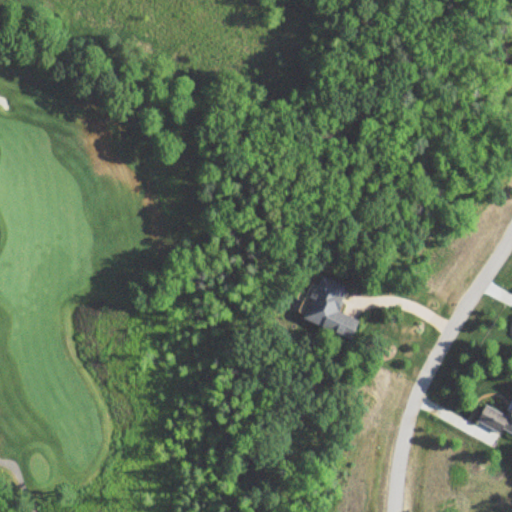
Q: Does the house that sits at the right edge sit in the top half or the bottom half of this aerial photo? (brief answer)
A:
bottom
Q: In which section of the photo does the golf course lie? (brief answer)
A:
left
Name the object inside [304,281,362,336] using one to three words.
house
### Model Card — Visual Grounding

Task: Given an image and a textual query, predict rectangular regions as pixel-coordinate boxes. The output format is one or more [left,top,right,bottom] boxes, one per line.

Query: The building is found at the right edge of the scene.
[478,405,512,442]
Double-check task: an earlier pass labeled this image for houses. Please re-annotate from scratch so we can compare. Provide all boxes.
[478,405,512,442]
[304,281,362,336]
